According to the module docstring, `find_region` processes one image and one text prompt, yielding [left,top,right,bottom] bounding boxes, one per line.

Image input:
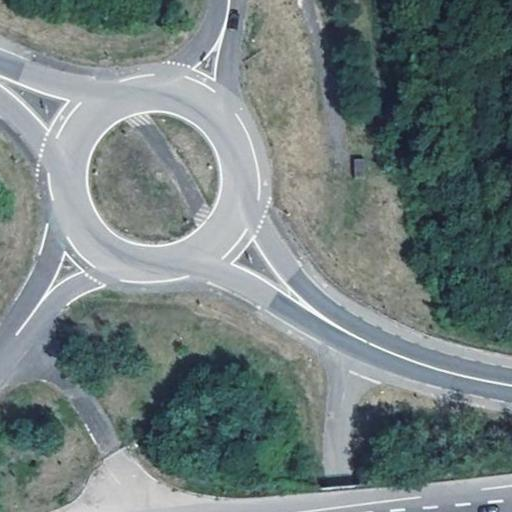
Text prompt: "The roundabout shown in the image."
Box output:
[36,61,272,285]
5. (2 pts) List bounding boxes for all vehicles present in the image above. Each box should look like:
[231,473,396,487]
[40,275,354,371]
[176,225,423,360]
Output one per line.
[478,506,500,512]
[228,8,239,30]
